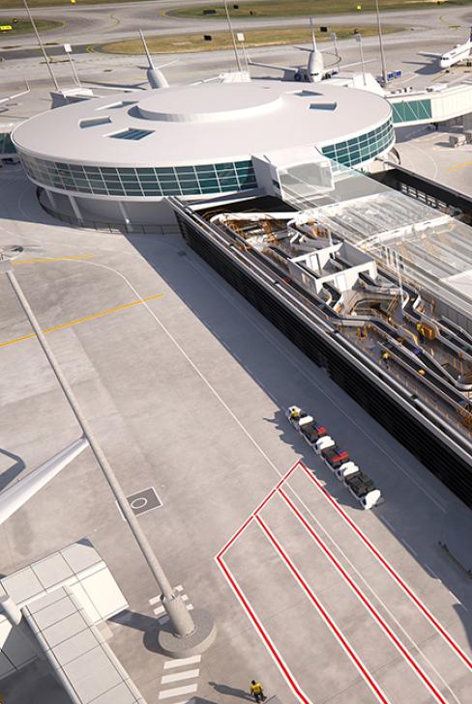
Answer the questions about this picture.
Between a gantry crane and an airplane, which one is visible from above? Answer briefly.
airplane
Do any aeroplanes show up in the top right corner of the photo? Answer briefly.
Yes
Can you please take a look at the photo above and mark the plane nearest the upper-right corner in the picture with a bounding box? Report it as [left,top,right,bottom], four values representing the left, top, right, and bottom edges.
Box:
[422,24,472,70]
